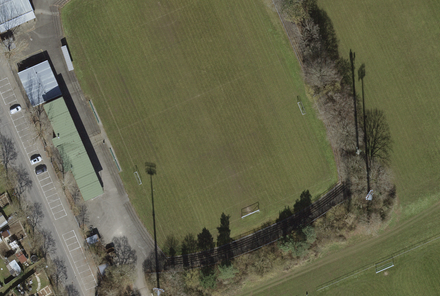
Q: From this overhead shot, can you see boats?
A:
No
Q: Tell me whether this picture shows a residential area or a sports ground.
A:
sports ground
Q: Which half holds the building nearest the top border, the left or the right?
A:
left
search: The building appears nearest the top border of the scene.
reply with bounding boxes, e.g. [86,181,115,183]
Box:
[0,0,36,32]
